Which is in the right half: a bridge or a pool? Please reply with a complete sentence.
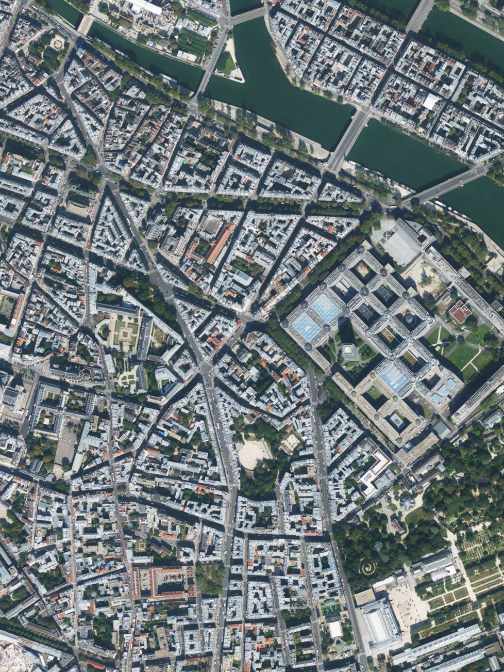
The feature located in the right half is a bridge.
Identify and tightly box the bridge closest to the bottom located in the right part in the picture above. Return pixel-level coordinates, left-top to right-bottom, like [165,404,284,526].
[399,158,495,210]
